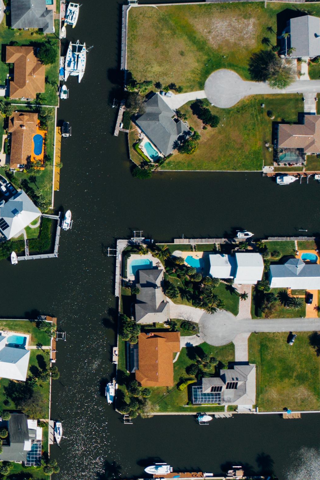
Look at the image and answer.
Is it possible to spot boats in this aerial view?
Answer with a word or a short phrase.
Yes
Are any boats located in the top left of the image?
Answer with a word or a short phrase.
Yes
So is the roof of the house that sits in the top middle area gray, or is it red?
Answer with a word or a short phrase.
gray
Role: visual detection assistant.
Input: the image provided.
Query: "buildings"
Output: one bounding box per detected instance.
[0,413,43,462]
[134,332,181,387]
[134,93,189,155]
[9,0,53,35]
[267,259,320,289]
[5,46,45,99]
[206,253,266,284]
[282,15,320,59]
[275,115,320,154]
[0,336,30,379]
[7,112,38,168]
[134,269,172,323]
[199,365,257,405]
[0,190,44,241]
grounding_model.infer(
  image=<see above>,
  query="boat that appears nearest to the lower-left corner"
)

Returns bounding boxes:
[53,421,69,444]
